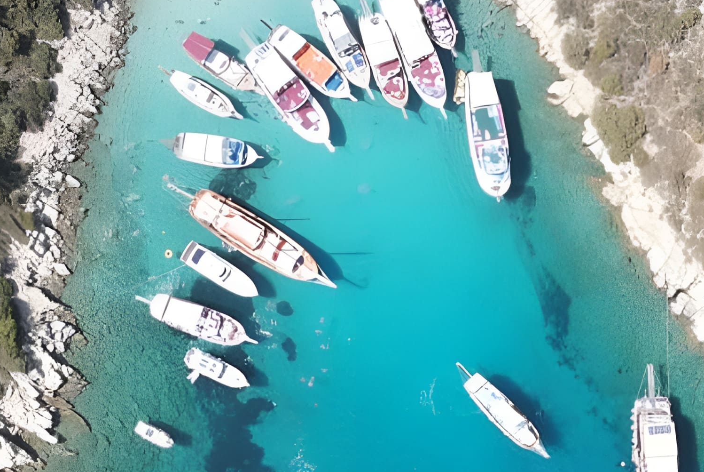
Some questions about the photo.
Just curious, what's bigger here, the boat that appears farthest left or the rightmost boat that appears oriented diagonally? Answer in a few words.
the rightmost boat that appears oriented diagonally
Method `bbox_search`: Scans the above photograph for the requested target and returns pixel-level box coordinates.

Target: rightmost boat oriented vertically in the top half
[466,49,512,202]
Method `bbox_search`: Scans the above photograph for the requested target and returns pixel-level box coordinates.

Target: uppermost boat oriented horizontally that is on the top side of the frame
[159,133,264,168]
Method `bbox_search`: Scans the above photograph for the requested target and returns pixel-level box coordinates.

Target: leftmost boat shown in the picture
[133,420,173,446]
